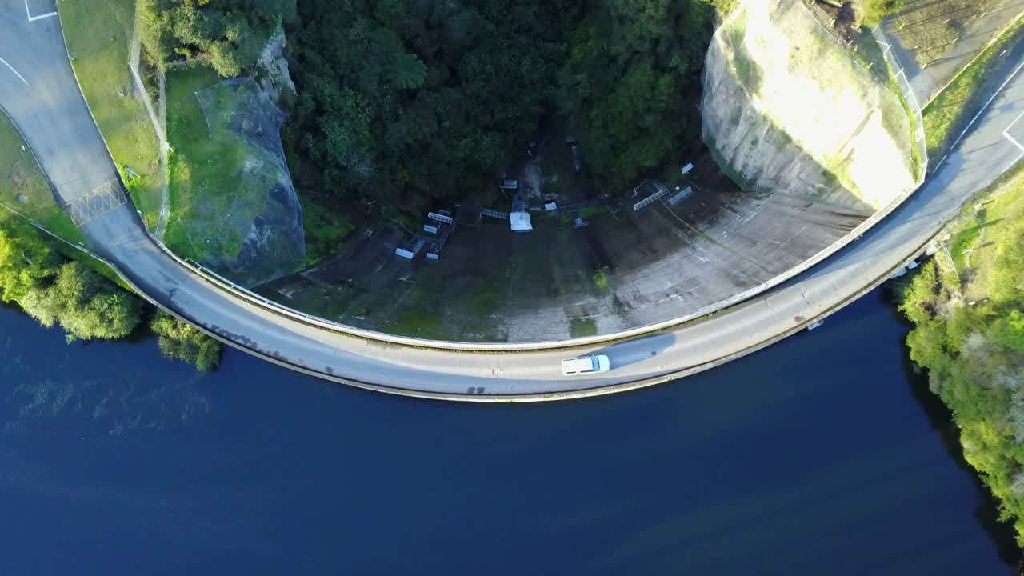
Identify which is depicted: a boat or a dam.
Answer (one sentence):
It is a dam that can be seen here.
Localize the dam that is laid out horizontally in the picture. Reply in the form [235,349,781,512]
[105,182,946,402]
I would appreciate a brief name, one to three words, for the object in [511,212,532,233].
shed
